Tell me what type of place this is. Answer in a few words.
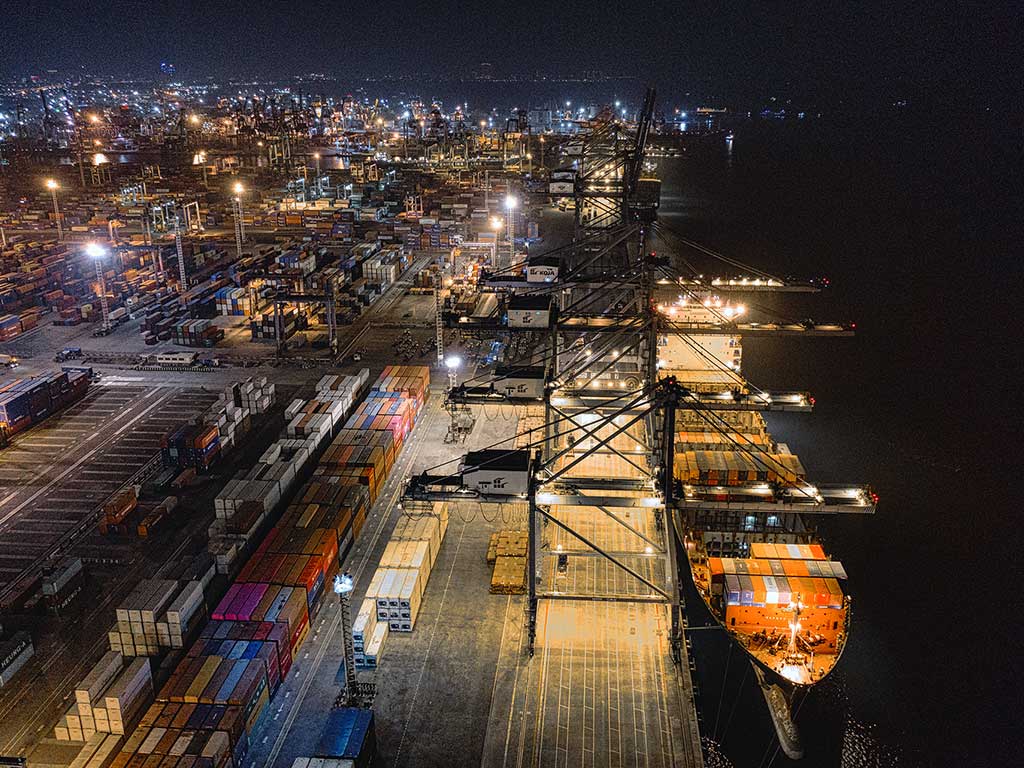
port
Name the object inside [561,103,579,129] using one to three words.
building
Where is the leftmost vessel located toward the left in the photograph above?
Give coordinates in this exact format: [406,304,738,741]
[71,134,136,150]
